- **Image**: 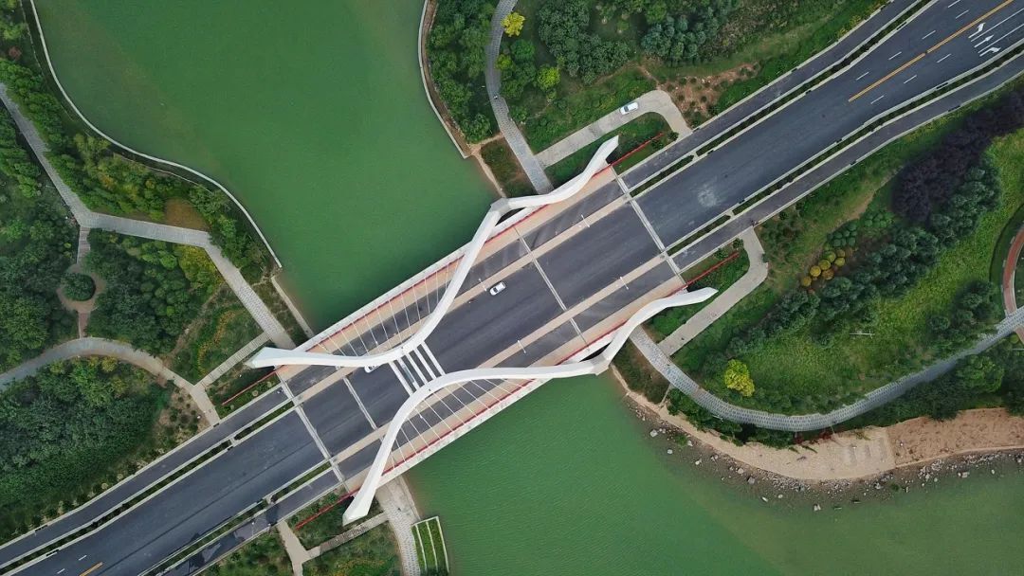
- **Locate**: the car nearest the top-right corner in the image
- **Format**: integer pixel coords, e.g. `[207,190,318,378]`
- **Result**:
[620,101,638,113]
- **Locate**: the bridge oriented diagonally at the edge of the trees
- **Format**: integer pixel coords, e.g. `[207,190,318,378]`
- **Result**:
[220,131,739,529]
